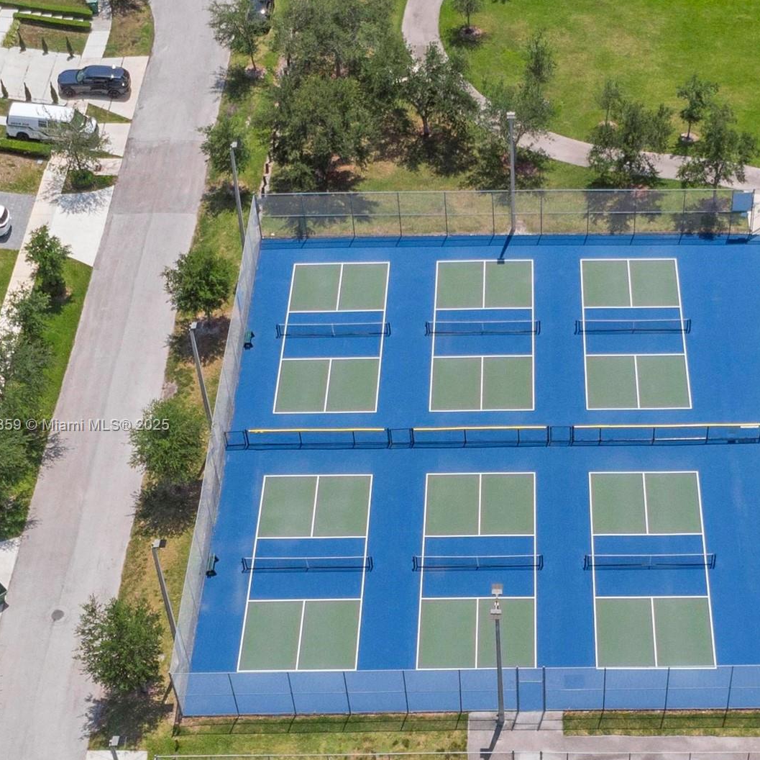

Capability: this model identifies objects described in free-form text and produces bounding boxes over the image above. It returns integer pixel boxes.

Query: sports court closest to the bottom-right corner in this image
[590,474,716,671]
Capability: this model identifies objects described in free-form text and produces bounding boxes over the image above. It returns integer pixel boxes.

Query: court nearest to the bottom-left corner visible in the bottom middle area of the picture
[236,477,372,673]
